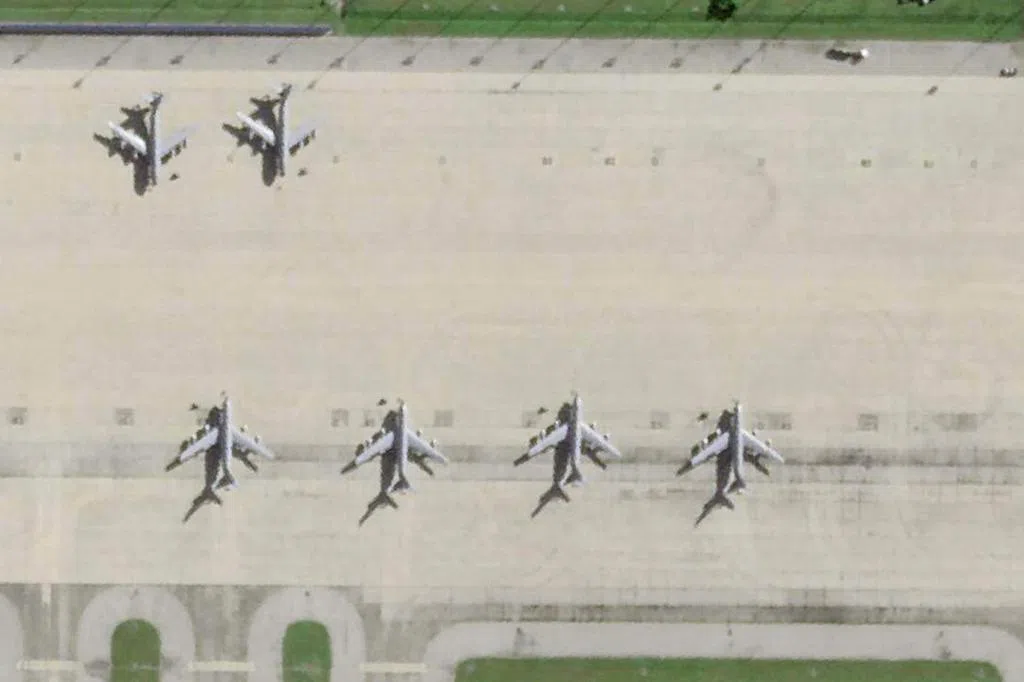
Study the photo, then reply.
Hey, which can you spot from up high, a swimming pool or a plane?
plane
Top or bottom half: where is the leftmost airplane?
top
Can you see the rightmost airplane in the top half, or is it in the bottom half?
bottom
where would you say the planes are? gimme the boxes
[532,396,622,488]
[358,402,448,495]
[110,92,201,186]
[239,83,330,176]
[181,397,272,490]
[693,403,783,496]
